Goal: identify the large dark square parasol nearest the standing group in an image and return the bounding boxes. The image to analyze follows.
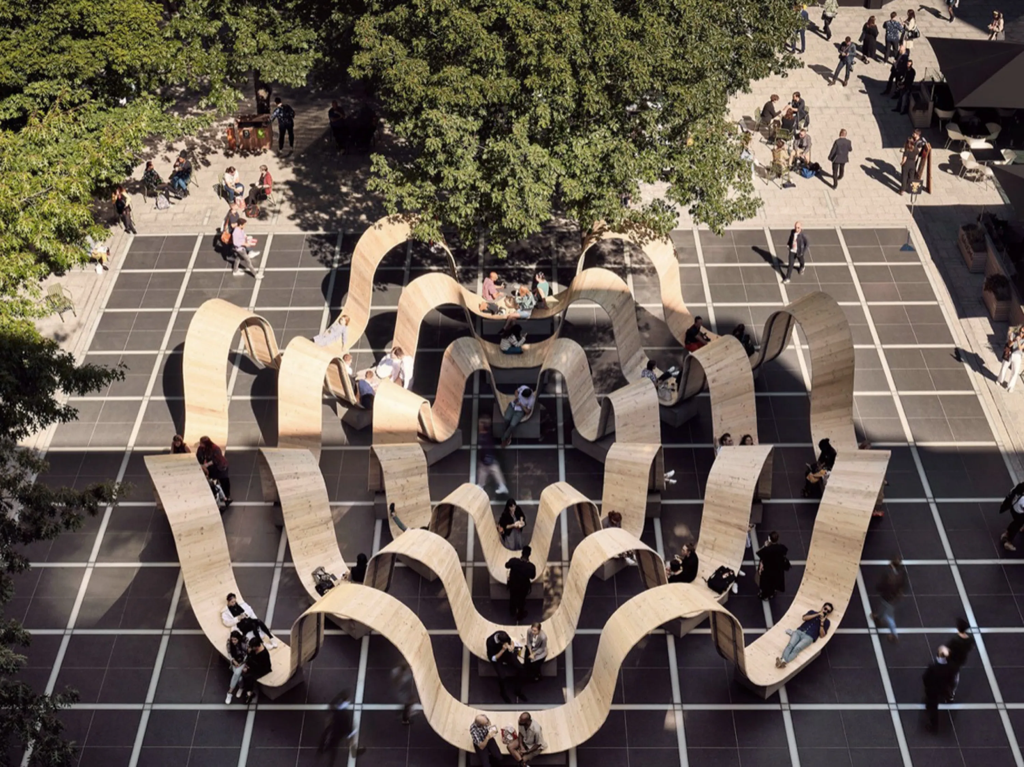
[922,34,1024,150]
